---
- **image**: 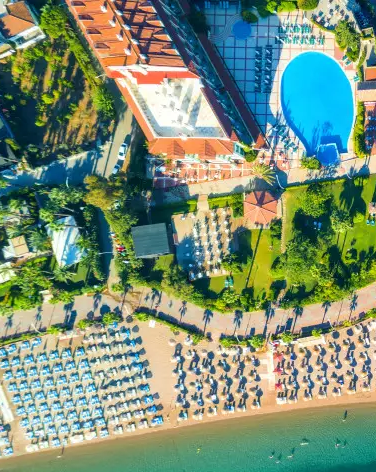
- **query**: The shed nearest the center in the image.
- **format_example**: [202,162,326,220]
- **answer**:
[131,222,173,258]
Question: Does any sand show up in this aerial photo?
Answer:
Yes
